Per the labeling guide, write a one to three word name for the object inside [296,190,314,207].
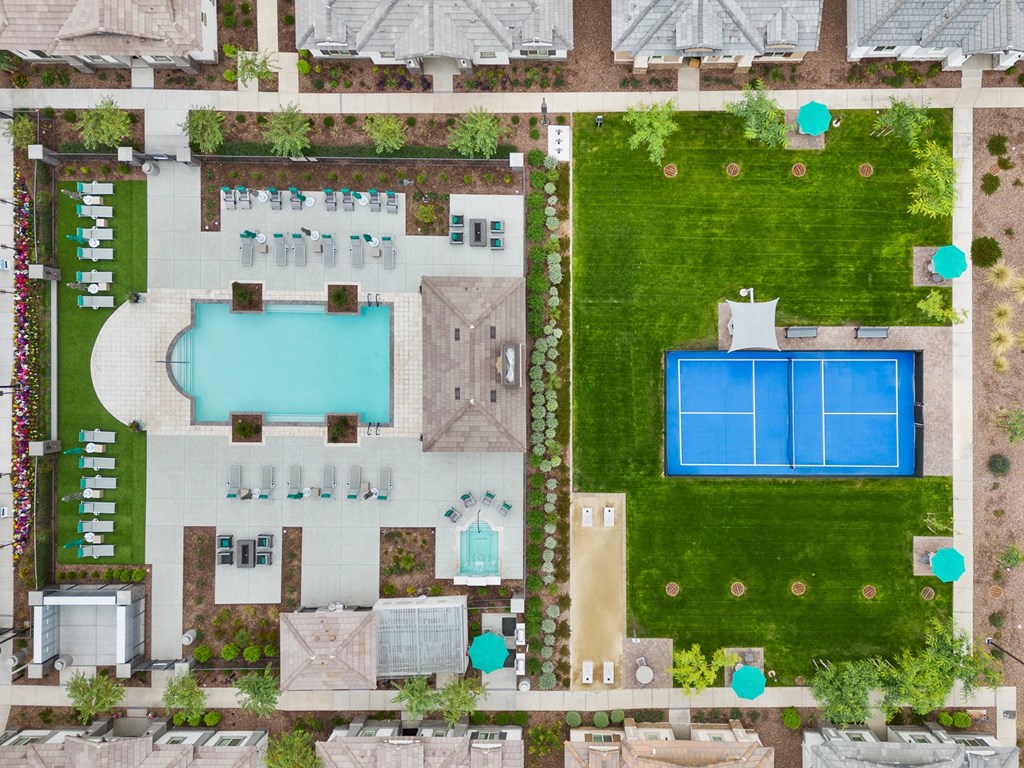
umbrella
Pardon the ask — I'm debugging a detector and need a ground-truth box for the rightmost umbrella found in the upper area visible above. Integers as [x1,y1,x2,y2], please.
[921,244,967,280]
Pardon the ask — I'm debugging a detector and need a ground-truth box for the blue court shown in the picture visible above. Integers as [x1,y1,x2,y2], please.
[667,350,916,476]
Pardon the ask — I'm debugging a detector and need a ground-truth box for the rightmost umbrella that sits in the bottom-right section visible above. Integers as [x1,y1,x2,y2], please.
[920,547,964,581]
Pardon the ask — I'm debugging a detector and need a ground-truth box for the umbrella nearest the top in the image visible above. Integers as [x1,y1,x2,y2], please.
[793,102,830,137]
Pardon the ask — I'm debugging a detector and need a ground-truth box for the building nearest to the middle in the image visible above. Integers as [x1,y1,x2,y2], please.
[419,274,528,454]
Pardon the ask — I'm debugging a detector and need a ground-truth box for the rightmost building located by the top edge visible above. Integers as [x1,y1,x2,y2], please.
[847,0,1024,71]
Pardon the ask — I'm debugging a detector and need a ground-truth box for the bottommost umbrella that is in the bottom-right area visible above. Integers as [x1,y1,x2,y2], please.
[730,662,766,701]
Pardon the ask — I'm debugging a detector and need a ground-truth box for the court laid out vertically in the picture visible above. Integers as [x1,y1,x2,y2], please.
[571,493,626,690]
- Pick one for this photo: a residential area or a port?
residential area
